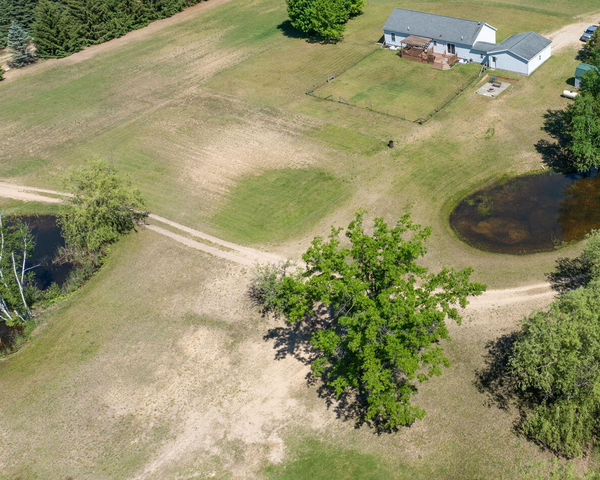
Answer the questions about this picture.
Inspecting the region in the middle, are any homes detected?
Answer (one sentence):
No, there is no home in the middle.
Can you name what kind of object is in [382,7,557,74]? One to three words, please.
house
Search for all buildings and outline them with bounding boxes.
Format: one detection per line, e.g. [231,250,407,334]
[574,62,600,91]
[382,7,557,74]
